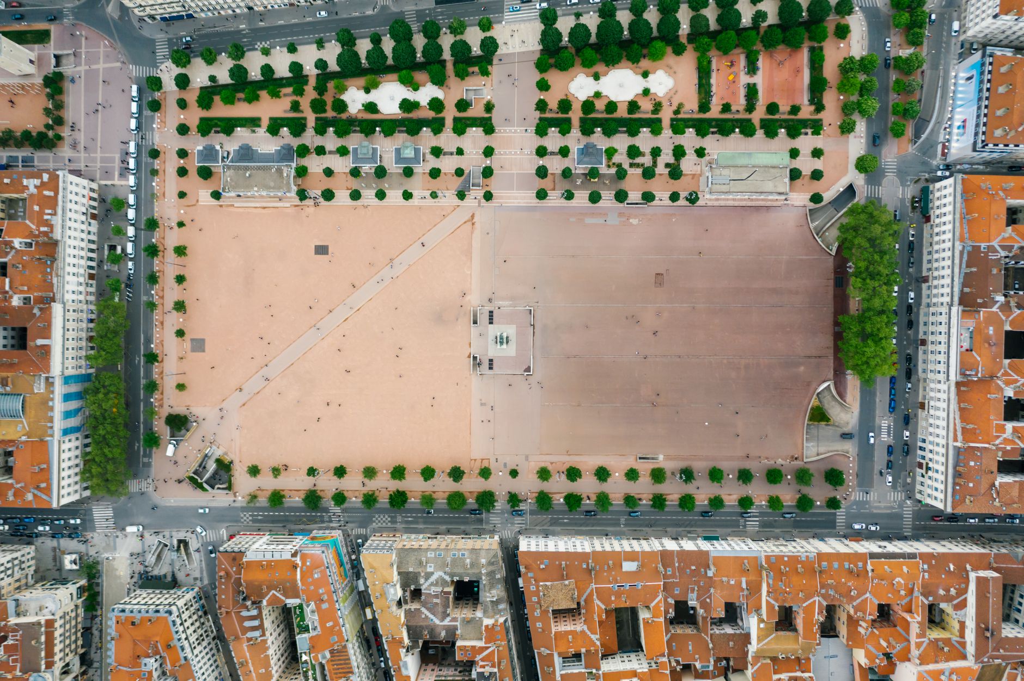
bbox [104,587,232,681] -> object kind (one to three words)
building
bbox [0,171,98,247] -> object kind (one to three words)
building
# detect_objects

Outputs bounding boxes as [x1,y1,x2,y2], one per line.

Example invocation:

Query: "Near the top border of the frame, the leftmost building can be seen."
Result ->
[0,34,36,75]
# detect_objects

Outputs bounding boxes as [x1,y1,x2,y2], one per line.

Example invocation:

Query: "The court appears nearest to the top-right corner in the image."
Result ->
[763,47,804,104]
